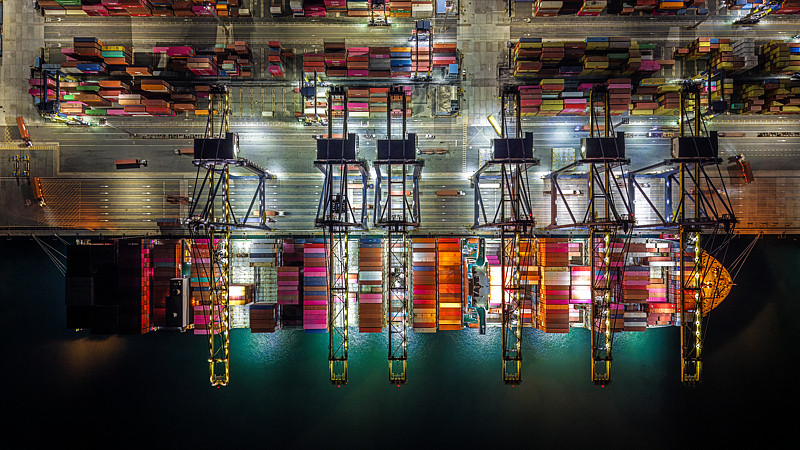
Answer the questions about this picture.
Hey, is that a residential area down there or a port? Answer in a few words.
port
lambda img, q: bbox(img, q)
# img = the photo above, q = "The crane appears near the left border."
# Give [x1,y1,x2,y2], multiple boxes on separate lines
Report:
[40,62,89,122]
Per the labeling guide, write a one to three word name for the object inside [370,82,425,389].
container crane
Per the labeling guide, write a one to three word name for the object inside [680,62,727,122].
crane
